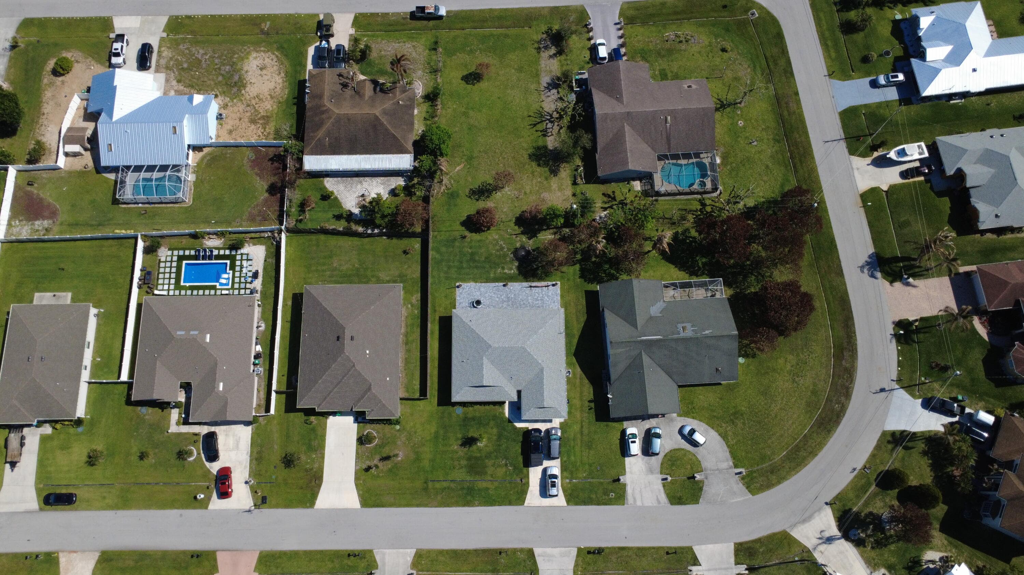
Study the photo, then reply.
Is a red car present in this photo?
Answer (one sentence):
Yes, there's a red car here.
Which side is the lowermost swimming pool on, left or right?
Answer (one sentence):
The lowermost swimming pool appears in the left half of the scene.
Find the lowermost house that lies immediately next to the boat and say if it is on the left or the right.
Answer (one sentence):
The lowermost house that lies immediately next to the boat appears in the right half of the scene.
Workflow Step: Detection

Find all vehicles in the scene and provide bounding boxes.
[44,492,78,508]
[612,45,624,62]
[678,424,709,449]
[317,40,332,68]
[547,427,562,459]
[109,34,131,67]
[925,395,966,421]
[203,431,220,464]
[902,164,934,180]
[333,44,346,68]
[529,429,545,468]
[596,40,609,64]
[649,425,664,456]
[215,466,233,500]
[138,44,154,69]
[625,426,640,457]
[415,4,446,18]
[322,11,336,37]
[875,73,905,88]
[545,466,560,498]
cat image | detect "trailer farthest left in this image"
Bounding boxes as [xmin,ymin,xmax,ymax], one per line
[4,425,26,474]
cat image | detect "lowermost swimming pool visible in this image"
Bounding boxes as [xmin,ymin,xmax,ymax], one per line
[181,260,232,288]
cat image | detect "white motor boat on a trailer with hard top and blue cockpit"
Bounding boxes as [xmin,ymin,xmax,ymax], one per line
[879,143,932,162]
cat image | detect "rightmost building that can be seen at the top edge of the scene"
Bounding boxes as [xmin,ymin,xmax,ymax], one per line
[905,0,1024,102]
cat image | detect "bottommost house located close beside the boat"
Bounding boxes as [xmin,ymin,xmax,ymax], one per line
[929,126,1024,232]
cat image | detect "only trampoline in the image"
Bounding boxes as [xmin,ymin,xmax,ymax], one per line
[513,243,532,261]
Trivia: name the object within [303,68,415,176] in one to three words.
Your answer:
house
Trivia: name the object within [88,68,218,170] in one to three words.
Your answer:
house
